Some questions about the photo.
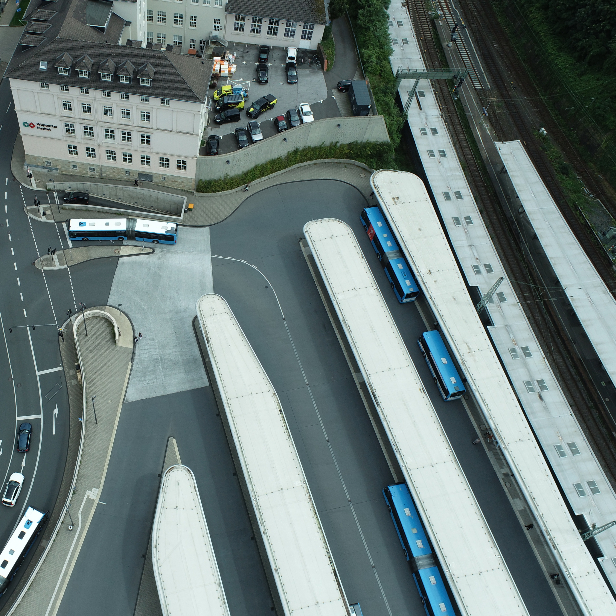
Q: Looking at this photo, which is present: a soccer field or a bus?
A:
bus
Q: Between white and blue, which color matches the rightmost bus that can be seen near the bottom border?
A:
blue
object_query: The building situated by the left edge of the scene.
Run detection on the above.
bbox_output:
[3,0,219,190]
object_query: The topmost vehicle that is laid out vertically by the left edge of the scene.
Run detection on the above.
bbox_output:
[17,422,32,454]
